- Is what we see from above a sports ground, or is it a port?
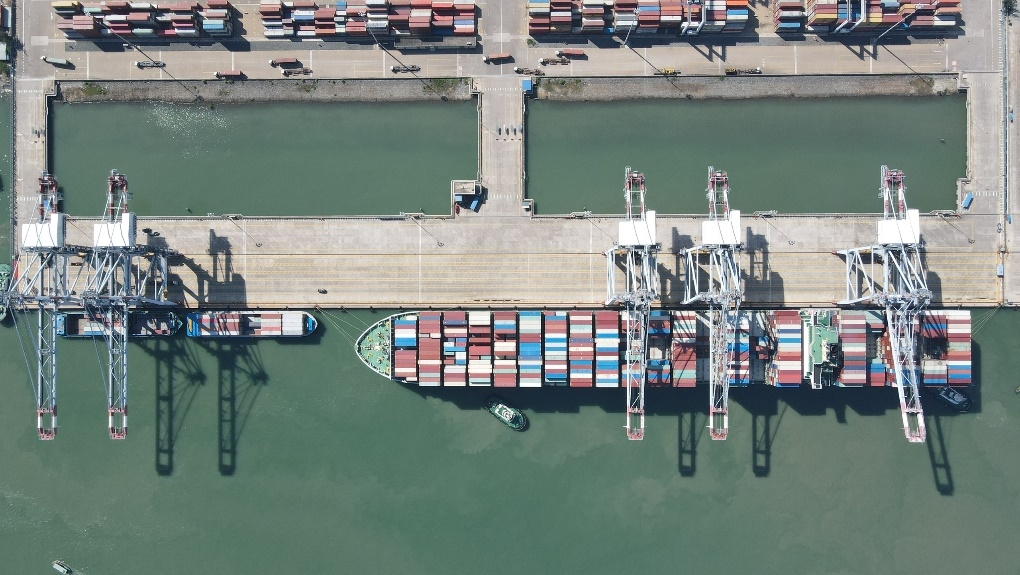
port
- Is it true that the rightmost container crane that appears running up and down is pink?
No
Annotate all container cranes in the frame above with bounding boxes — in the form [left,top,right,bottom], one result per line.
[835,165,941,444]
[602,166,659,440]
[75,169,180,441]
[676,166,746,441]
[679,0,707,39]
[0,170,111,441]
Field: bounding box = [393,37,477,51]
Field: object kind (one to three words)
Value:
shed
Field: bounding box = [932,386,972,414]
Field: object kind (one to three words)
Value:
boat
